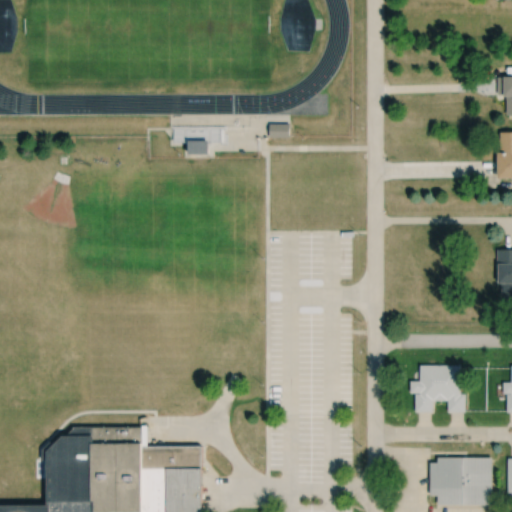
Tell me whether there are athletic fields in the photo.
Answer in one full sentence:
Yes, you can see an athletic field in this photo.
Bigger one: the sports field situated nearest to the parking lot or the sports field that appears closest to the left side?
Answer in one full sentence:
The sports field situated nearest to the parking lot is bigger than the sports field that appears closest to the left side.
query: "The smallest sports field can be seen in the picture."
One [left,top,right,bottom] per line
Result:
[24,172,78,228]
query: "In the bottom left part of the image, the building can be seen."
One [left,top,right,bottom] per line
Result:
[0,424,202,512]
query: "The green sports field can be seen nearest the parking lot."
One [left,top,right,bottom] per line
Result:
[62,170,262,316]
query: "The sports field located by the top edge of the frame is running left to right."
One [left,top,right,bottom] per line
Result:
[24,0,279,92]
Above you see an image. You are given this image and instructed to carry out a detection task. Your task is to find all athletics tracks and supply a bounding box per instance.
[0,0,351,116]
